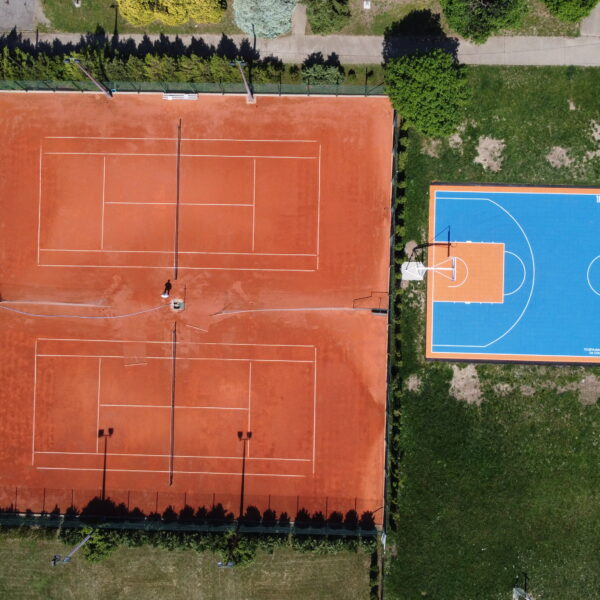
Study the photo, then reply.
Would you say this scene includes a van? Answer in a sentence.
No, the picture doesn't show any van.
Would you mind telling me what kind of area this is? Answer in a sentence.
It's a sports ground.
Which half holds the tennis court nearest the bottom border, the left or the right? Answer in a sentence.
It is on the left.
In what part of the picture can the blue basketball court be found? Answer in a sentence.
The blue basketball court appears toward the right of the photo.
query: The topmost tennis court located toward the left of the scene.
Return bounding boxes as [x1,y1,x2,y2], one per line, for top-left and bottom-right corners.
[0,91,392,310]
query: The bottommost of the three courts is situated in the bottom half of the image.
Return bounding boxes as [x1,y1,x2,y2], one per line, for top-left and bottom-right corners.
[0,301,388,525]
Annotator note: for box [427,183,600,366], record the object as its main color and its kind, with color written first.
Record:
blue basketball court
